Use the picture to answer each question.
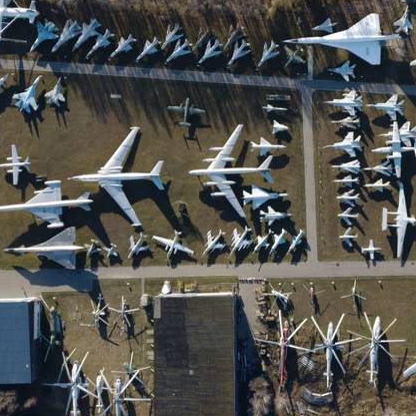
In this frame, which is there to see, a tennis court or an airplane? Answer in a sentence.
Visible in the photo is an airplane.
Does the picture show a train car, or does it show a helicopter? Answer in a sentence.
This aerial view contains a helicopter.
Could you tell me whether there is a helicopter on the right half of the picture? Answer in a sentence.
Yes, looking on the right half of the picture, one can make out a helicopter.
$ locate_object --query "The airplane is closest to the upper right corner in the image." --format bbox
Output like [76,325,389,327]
[394,6,414,35]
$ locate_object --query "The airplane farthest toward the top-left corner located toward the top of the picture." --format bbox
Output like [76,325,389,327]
[30,18,59,51]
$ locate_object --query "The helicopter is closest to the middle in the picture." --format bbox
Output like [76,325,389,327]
[264,282,293,310]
